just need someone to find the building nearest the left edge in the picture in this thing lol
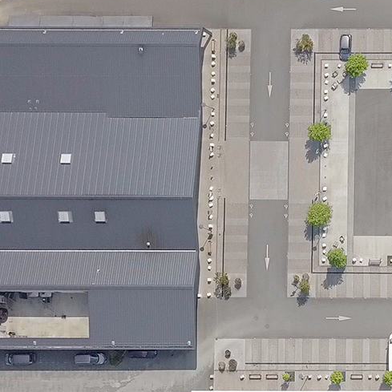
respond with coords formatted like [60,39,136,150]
[0,27,205,351]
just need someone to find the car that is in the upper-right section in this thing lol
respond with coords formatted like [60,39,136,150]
[339,35,352,60]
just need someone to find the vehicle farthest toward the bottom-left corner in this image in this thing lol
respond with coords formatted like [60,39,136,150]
[6,352,37,367]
